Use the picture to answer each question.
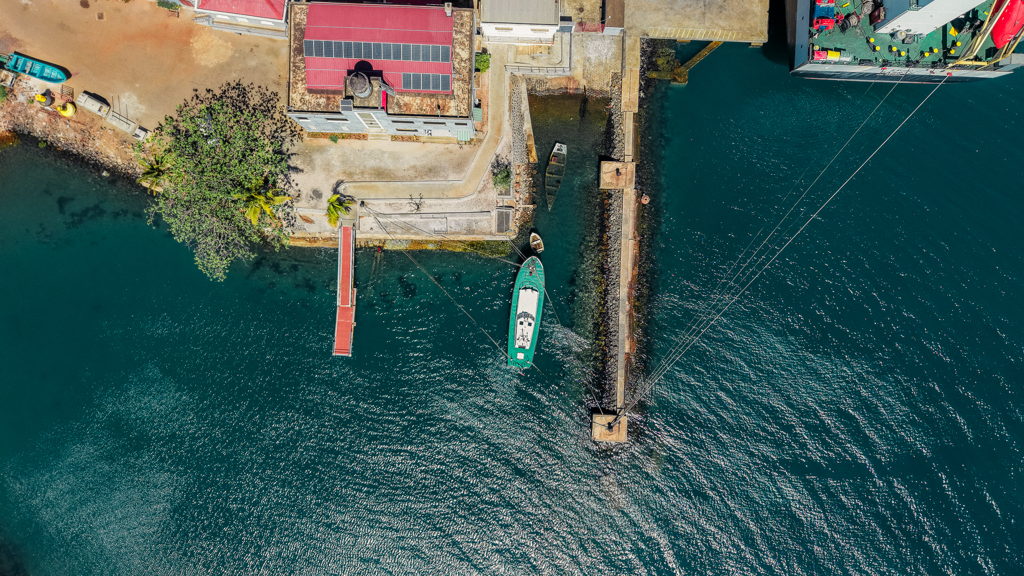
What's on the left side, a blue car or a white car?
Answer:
white car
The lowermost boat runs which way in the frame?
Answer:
up and down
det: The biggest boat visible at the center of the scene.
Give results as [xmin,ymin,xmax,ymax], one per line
[507,256,545,370]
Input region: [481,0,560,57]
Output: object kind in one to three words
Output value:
building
